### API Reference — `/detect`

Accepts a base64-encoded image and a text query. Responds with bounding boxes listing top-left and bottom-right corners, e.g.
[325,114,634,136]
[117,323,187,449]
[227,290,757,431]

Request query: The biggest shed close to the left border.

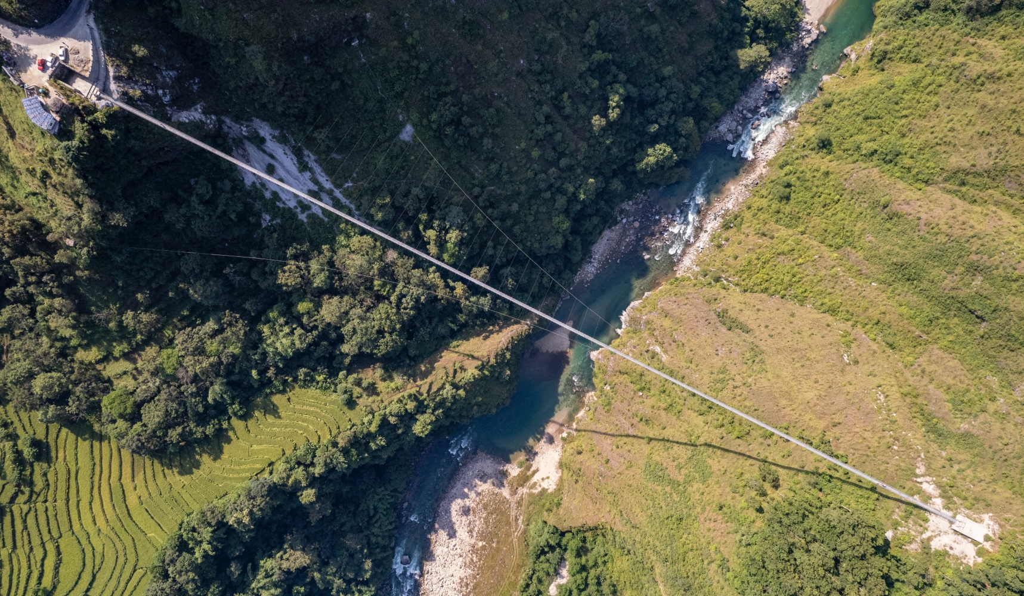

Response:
[22,96,64,130]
